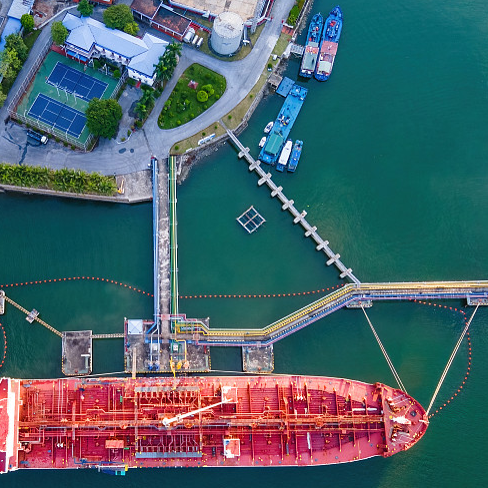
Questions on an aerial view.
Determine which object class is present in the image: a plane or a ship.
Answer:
ship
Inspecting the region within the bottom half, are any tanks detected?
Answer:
No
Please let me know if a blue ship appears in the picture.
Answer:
Yes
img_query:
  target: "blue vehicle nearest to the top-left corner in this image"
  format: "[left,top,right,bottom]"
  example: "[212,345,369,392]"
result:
[27,130,48,144]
